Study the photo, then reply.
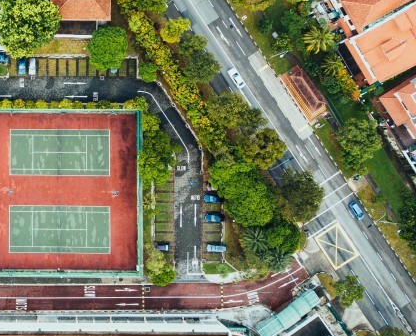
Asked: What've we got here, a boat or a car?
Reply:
car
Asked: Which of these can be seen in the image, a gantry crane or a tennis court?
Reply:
tennis court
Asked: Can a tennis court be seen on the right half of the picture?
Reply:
No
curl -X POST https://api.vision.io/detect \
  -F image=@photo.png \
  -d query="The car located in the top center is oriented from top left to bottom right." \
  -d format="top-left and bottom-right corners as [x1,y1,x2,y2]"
[228,69,245,88]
